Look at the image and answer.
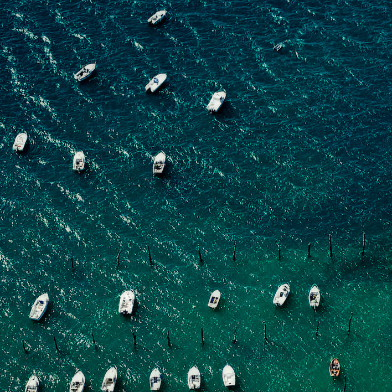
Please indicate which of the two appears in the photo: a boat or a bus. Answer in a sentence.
Looking from above, you can make out a boat.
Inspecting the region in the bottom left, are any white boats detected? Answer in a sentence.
Yes, a white boat shows up in the bottom left.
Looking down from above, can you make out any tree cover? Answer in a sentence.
No, tree cover can't be seen anywhere here.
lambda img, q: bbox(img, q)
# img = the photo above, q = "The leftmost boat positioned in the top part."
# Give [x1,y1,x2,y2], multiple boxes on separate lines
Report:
[12,132,29,153]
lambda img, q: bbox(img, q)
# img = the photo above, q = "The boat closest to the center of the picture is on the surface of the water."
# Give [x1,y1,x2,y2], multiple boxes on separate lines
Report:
[152,151,167,176]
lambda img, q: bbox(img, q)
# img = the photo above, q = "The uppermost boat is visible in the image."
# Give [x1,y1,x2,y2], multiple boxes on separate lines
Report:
[147,10,166,25]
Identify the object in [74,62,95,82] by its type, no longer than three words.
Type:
boat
